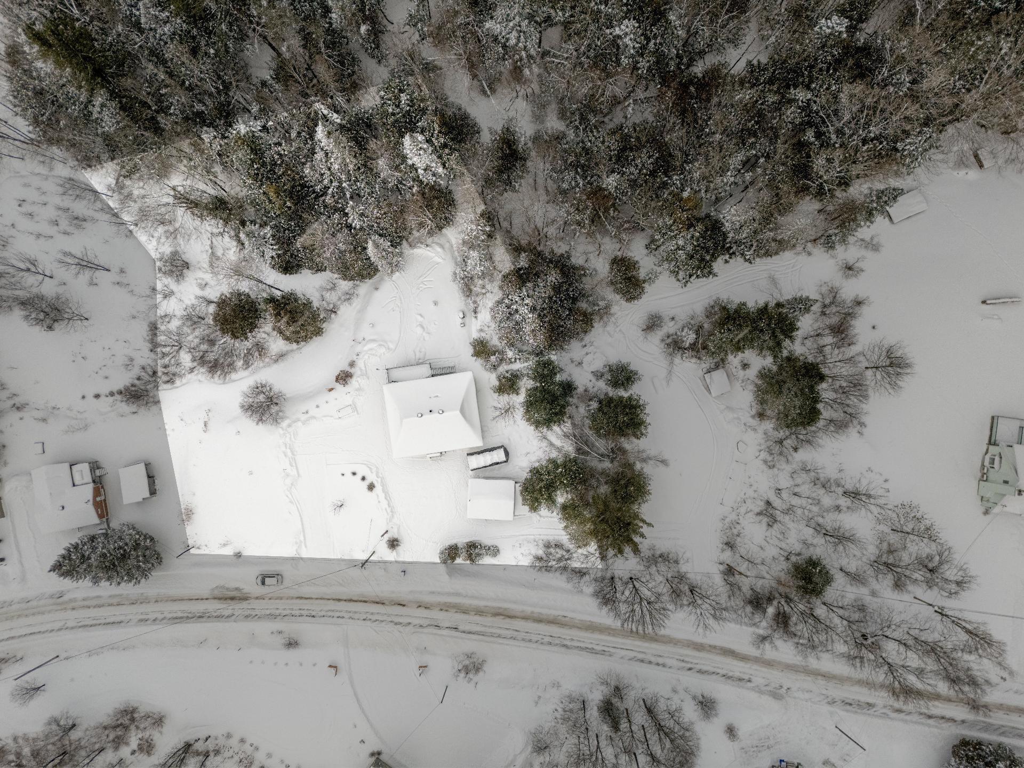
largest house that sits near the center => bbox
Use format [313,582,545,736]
[384,362,483,458]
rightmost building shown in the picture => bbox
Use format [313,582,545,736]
[970,416,1024,516]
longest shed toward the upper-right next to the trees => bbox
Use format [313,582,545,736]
[884,190,927,225]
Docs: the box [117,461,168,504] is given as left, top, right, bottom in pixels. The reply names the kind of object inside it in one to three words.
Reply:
shed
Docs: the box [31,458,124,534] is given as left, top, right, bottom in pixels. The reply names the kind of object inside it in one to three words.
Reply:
house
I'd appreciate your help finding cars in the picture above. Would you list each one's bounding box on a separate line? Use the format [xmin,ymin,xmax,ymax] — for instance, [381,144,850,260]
[255,574,281,587]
